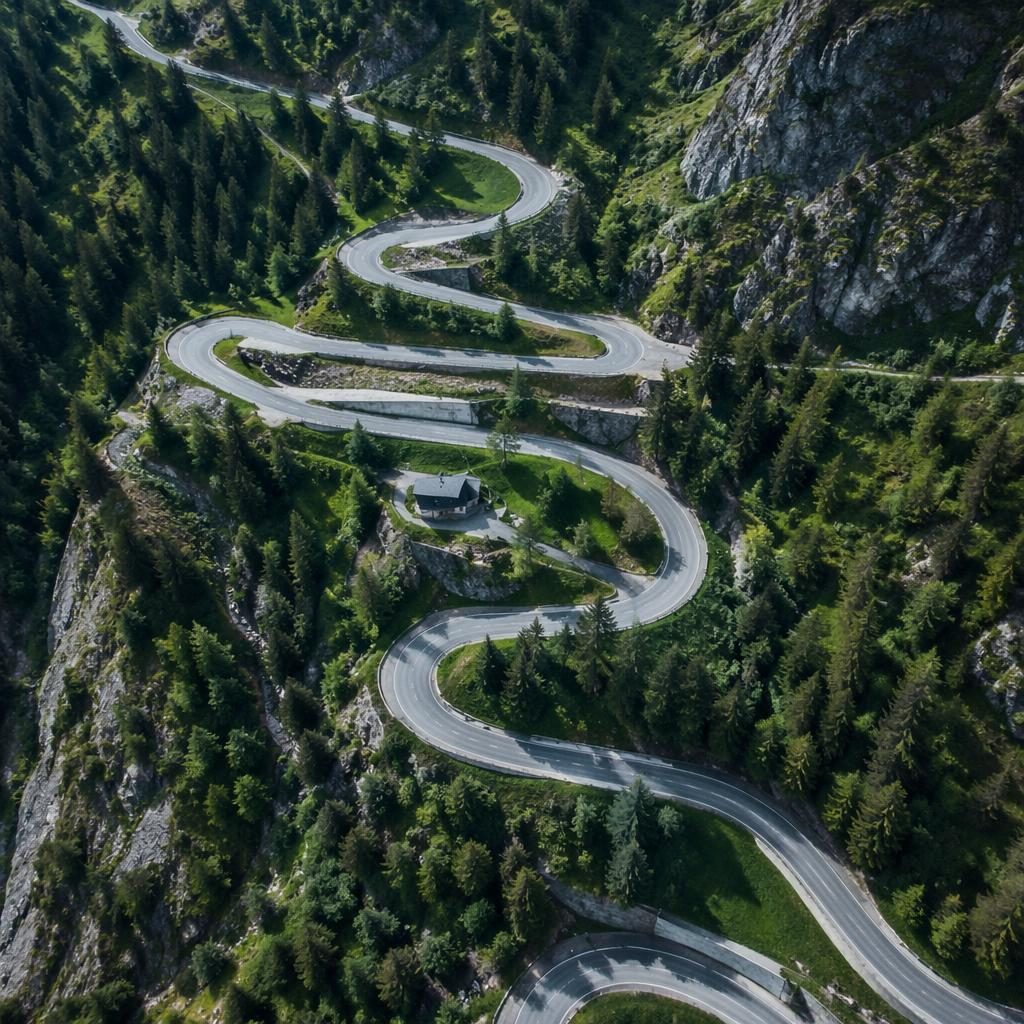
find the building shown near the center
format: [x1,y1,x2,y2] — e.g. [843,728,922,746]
[419,471,483,519]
